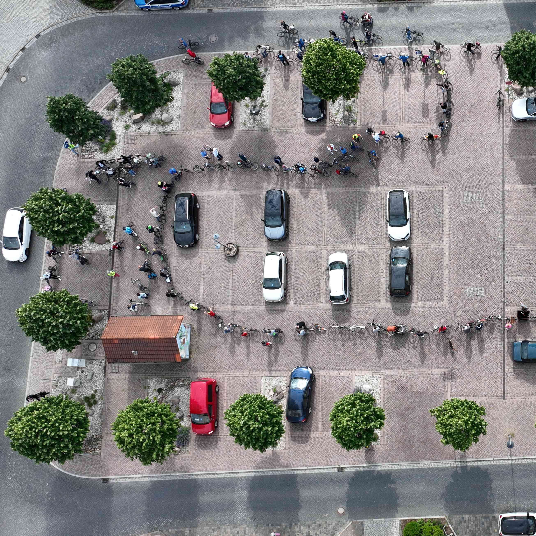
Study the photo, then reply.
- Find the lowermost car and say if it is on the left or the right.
right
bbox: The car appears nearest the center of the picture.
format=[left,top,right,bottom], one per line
[259,253,288,302]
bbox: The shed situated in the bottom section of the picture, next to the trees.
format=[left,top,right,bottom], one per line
[100,314,192,364]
